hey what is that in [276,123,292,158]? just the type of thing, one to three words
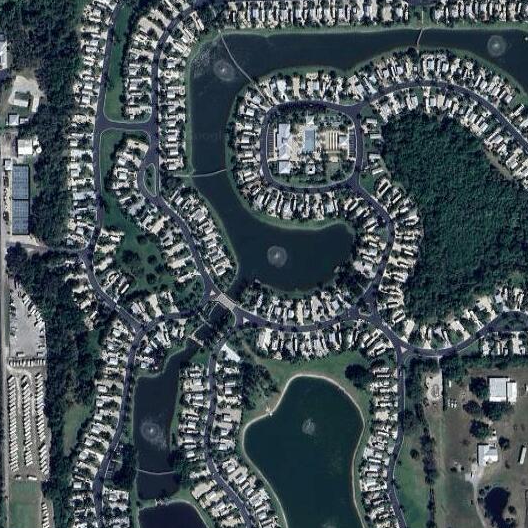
building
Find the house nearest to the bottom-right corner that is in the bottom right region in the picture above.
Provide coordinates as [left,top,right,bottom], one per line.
[478,443,498,465]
